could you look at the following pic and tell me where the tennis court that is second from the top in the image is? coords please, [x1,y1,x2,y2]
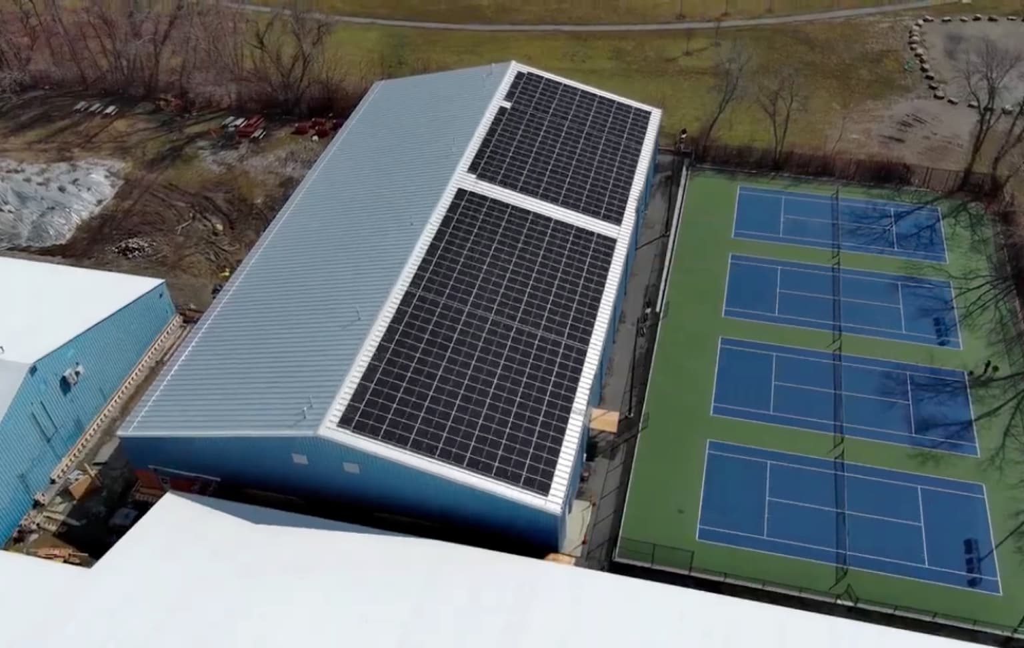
[724,254,961,347]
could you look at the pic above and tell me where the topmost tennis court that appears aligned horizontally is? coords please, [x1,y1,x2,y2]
[734,186,947,262]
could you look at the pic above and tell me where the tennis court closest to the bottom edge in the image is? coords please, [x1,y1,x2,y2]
[698,440,1001,592]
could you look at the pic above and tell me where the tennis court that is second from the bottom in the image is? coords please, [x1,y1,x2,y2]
[713,337,978,455]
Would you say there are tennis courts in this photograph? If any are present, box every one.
[724,254,961,347]
[698,440,1001,592]
[734,186,947,262]
[713,337,978,455]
